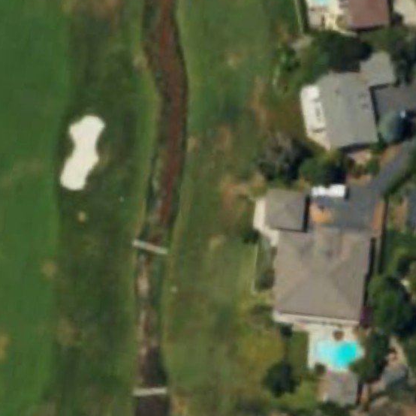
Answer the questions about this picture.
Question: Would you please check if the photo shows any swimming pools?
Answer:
Yes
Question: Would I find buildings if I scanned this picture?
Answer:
Yes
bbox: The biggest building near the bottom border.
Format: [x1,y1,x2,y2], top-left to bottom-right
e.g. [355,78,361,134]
[322,369,360,405]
